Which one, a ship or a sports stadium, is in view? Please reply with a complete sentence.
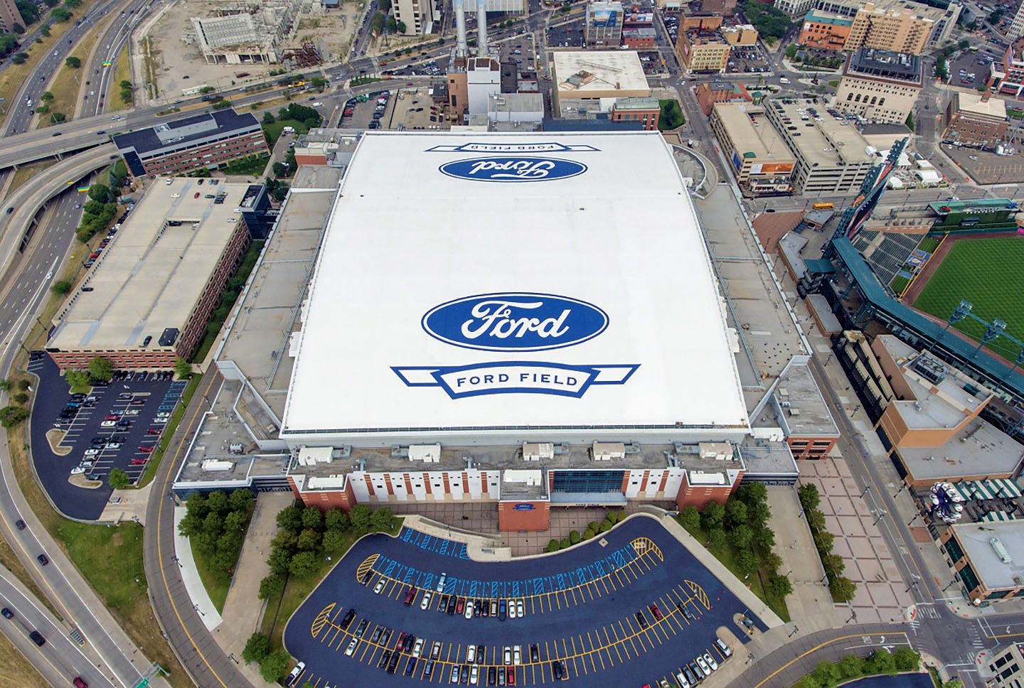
It is a sports stadium that can be seen here.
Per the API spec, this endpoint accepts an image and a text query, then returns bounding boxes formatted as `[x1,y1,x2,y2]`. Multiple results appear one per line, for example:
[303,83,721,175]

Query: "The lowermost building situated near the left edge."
[43,176,254,373]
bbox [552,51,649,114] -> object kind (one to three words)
building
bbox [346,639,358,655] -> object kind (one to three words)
vehicle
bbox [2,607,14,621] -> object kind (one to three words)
vehicle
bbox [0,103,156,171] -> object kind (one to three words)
overpass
